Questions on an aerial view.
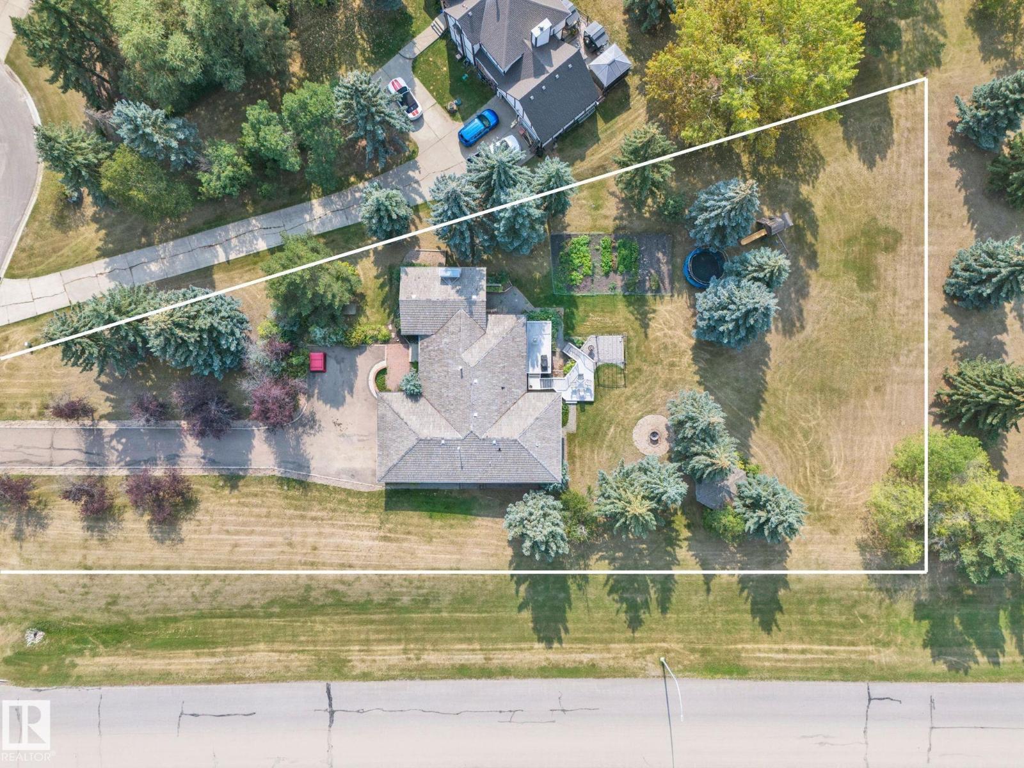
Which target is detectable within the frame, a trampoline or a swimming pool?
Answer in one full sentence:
I can see a trampoline in this picture.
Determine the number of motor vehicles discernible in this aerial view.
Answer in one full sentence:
My tally gives 3 motor vehicles in this view.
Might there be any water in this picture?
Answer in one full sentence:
No, the scene doesn't show any water.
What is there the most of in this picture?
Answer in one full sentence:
The bulk of the photo consists of grass.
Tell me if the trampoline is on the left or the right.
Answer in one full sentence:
The trampoline sits on the right side.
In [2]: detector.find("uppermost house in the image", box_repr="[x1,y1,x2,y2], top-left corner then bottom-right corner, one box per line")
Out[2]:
[442,0,603,147]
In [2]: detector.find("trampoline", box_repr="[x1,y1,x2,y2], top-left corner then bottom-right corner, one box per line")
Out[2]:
[683,245,728,288]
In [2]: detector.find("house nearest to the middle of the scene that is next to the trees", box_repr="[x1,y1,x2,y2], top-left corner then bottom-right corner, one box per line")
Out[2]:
[376,265,563,483]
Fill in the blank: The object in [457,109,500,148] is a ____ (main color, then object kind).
blue car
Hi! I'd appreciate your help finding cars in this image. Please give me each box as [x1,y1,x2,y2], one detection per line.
[494,136,520,158]
[457,109,500,148]
[387,77,425,123]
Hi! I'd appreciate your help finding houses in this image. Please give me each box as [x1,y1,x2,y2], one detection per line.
[376,265,563,483]
[442,0,603,147]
